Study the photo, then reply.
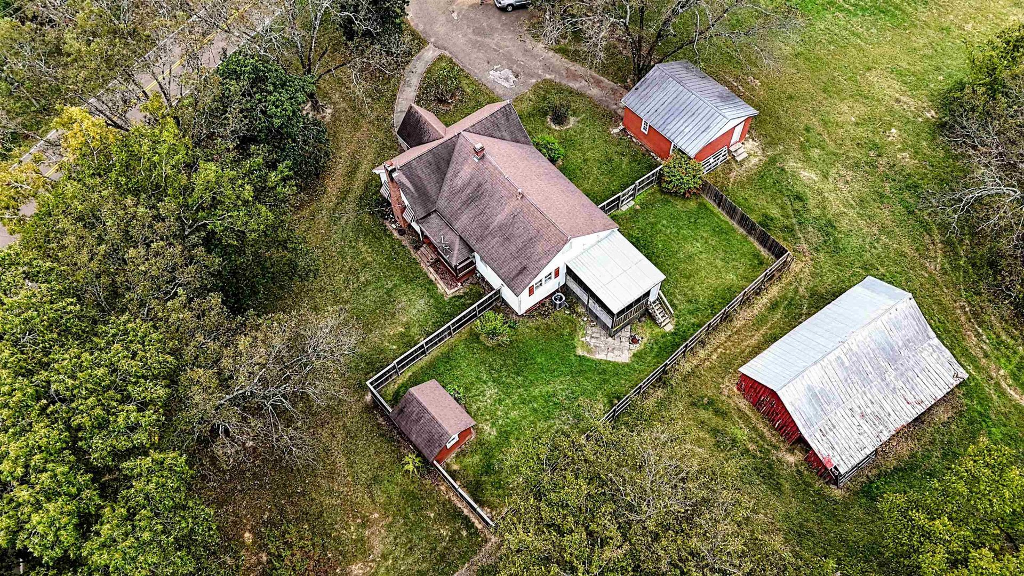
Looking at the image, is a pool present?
No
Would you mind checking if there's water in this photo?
No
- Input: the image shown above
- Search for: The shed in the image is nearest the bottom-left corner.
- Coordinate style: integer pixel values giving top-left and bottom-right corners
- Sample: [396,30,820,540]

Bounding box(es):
[391,381,475,462]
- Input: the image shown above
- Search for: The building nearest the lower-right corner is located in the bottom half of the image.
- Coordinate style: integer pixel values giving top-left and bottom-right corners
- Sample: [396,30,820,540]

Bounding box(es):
[738,277,970,489]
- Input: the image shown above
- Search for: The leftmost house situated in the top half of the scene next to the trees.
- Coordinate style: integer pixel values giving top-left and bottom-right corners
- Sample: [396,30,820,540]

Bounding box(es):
[373,97,674,337]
